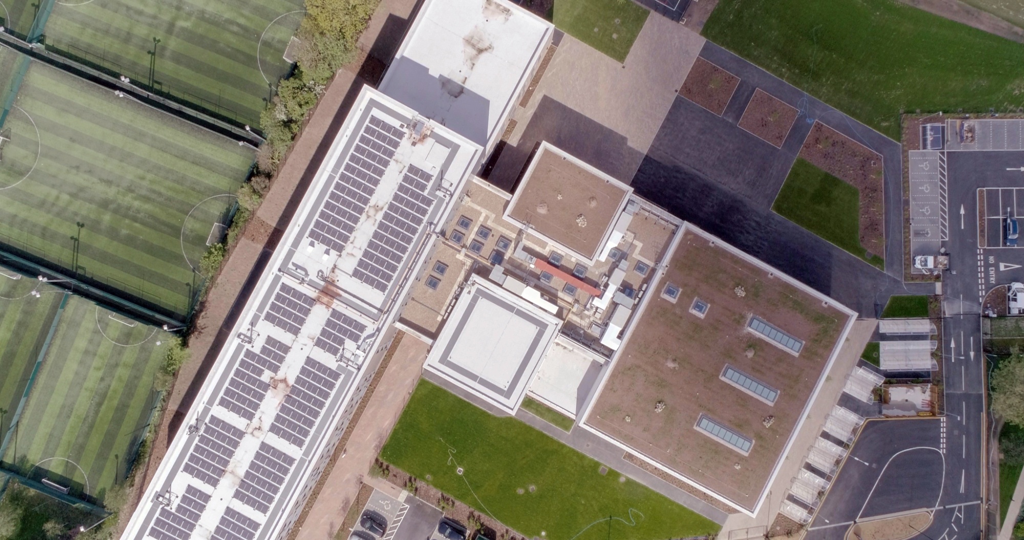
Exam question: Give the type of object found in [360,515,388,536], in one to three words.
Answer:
car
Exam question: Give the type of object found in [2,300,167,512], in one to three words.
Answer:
soccer field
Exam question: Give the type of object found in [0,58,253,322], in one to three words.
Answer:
soccer field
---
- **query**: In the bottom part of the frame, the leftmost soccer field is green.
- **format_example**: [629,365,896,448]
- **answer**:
[0,271,63,445]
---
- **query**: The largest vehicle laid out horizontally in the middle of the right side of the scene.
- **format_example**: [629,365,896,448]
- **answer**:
[910,254,950,274]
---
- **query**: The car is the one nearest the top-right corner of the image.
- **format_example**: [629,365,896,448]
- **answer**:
[1003,218,1019,246]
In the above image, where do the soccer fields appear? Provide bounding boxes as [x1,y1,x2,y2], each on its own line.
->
[2,300,167,512]
[0,271,63,445]
[0,58,253,322]
[0,44,31,120]
[45,0,306,135]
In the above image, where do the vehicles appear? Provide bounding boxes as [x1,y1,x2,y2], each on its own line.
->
[360,515,388,536]
[438,524,466,540]
[1007,278,1024,312]
[910,254,950,274]
[350,532,370,540]
[1003,218,1019,246]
